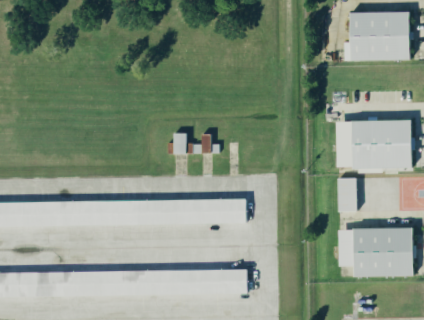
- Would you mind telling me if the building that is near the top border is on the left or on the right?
right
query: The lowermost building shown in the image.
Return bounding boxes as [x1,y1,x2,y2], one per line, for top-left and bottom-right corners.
[0,268,249,298]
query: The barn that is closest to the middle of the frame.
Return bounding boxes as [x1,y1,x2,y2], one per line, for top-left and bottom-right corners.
[194,134,221,154]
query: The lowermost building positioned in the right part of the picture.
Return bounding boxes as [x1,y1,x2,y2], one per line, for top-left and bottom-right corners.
[338,228,417,277]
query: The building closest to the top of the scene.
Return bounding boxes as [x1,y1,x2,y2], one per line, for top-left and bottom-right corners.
[344,12,415,62]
